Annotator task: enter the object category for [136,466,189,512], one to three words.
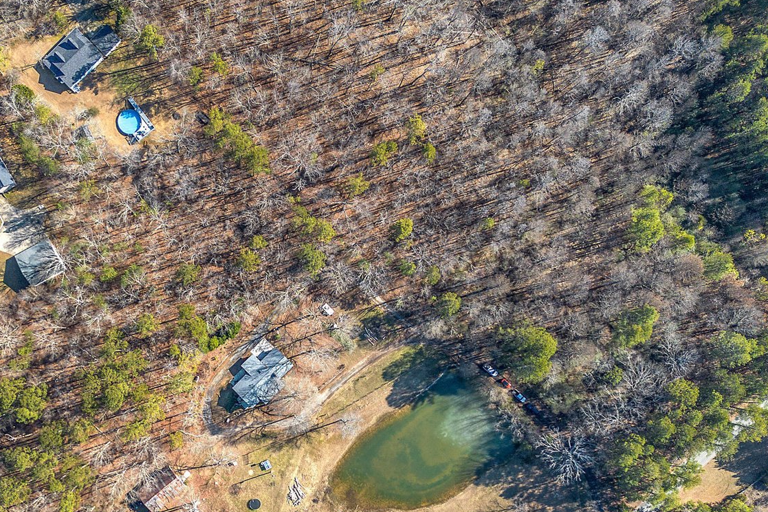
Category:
barn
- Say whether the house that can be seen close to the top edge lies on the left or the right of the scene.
left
